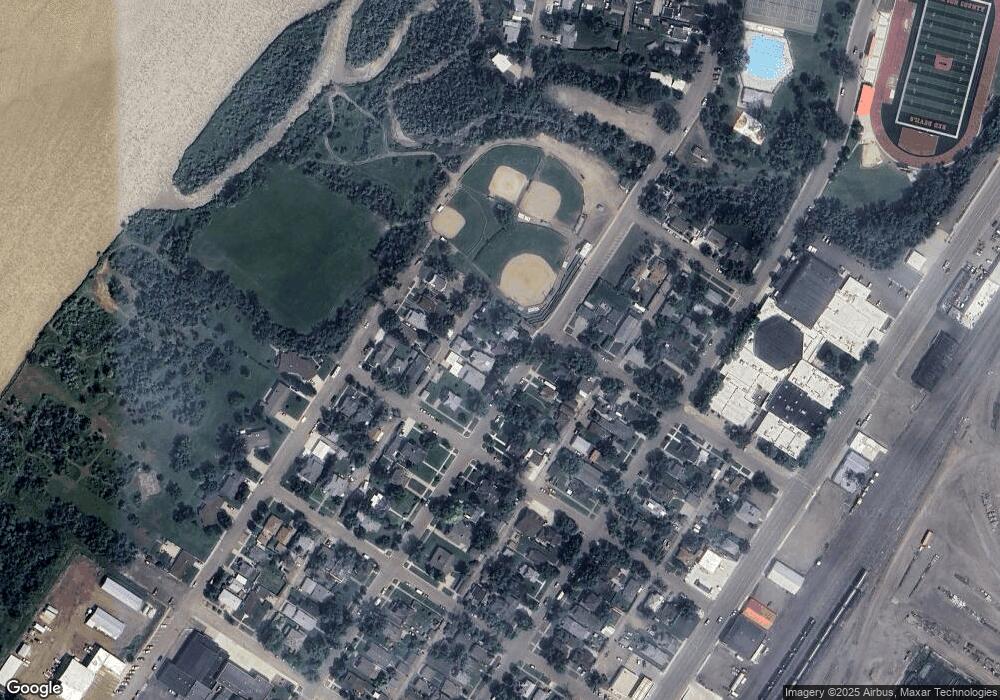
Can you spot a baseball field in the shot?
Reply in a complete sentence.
Yes, there's a baseball field down there.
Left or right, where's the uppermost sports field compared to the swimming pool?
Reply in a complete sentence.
Compared with the swimming pool, the uppermost sports field is located further to the right.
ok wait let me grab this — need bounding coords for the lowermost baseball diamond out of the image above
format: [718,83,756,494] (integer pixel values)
[473,223,569,310]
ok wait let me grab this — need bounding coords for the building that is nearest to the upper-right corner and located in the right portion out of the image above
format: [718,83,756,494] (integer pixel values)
[857,85,876,114]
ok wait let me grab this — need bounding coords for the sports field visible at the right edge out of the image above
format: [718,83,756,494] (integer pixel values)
[884,0,997,155]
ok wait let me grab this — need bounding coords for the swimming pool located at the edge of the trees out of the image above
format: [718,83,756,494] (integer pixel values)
[739,27,793,94]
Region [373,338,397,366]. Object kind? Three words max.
house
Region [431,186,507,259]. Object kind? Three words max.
baseball field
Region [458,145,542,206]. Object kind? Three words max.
baseball field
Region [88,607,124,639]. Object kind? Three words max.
building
